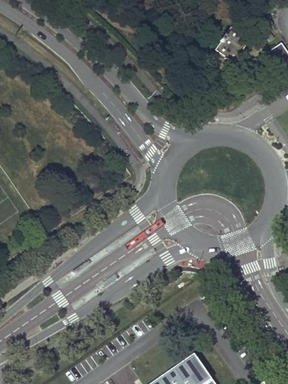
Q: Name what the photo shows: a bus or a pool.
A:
bus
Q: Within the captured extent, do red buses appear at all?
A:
Yes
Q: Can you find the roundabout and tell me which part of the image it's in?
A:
right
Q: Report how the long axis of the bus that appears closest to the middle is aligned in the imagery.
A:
diagonally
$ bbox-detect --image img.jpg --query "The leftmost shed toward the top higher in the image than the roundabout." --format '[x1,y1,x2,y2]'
[216,28,246,60]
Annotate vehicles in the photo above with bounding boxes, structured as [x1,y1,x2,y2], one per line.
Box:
[66,372,76,382]
[108,343,117,354]
[117,336,126,346]
[133,326,143,336]
[144,319,154,329]
[125,219,166,250]
[72,368,81,378]
[208,248,218,253]
[178,247,190,254]
[37,31,46,40]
